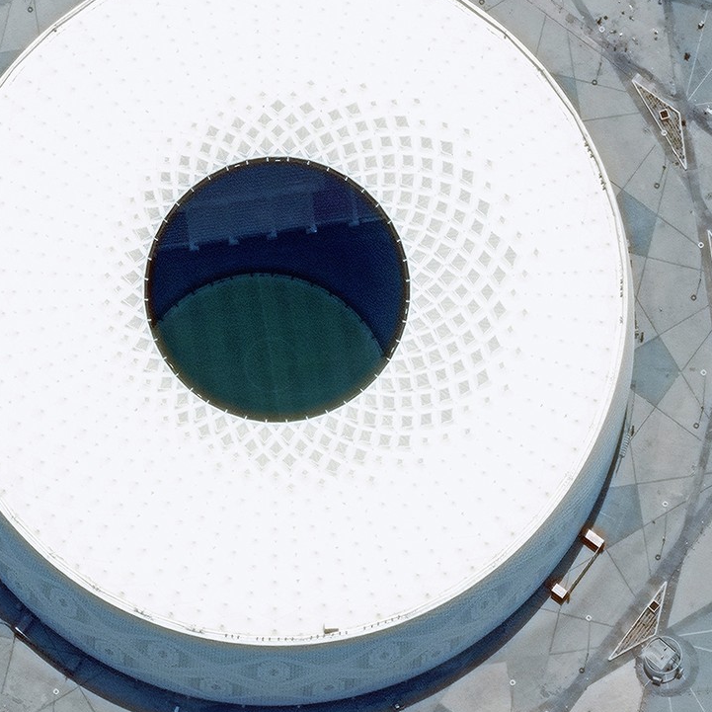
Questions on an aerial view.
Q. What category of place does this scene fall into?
sports ground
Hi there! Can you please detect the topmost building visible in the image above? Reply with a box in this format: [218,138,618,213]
[552,530,604,605]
